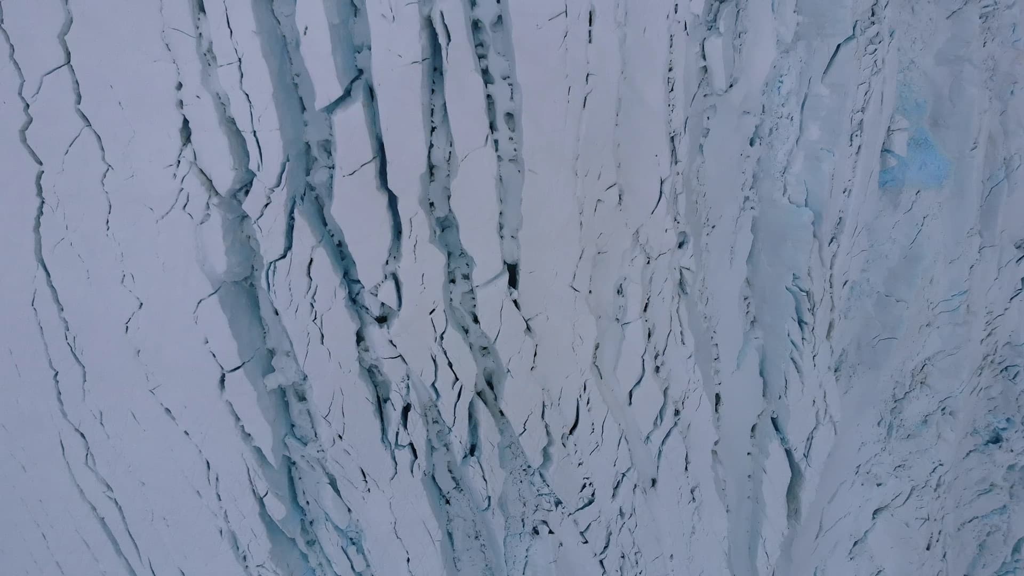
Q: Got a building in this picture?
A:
No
